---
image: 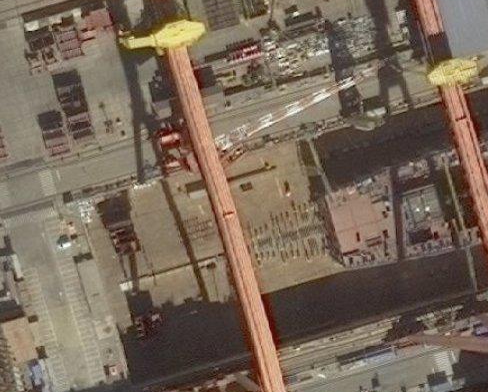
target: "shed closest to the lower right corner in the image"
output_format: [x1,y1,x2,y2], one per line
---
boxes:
[427,378,460,392]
